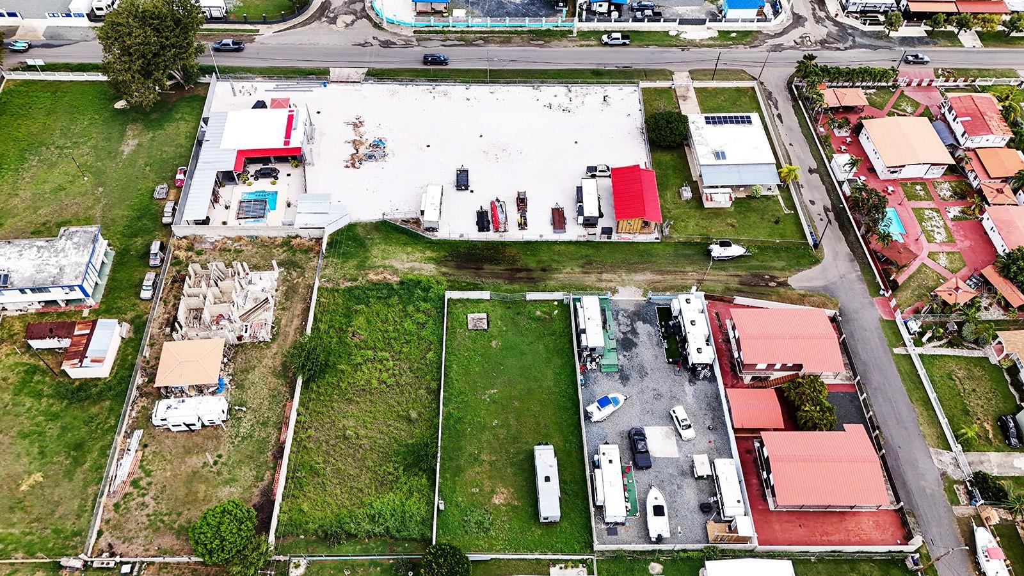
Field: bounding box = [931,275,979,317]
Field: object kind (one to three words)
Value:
gazebo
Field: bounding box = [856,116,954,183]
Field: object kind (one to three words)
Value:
house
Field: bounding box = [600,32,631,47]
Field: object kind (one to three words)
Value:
vehicle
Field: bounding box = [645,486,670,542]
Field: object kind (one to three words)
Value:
boat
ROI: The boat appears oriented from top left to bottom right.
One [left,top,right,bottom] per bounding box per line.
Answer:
[977,525,1016,576]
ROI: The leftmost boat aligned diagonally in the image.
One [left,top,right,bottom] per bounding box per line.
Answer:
[583,394,625,425]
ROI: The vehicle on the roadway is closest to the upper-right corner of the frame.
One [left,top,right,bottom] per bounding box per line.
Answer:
[902,52,932,66]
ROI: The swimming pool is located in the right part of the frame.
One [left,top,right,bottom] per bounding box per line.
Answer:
[879,206,908,242]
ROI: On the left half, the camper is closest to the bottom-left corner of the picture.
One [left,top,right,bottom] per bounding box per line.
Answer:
[153,395,233,431]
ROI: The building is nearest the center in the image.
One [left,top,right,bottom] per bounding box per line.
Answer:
[612,162,661,234]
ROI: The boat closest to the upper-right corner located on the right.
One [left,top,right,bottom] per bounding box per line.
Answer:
[706,242,751,258]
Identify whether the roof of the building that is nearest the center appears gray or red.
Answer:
red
